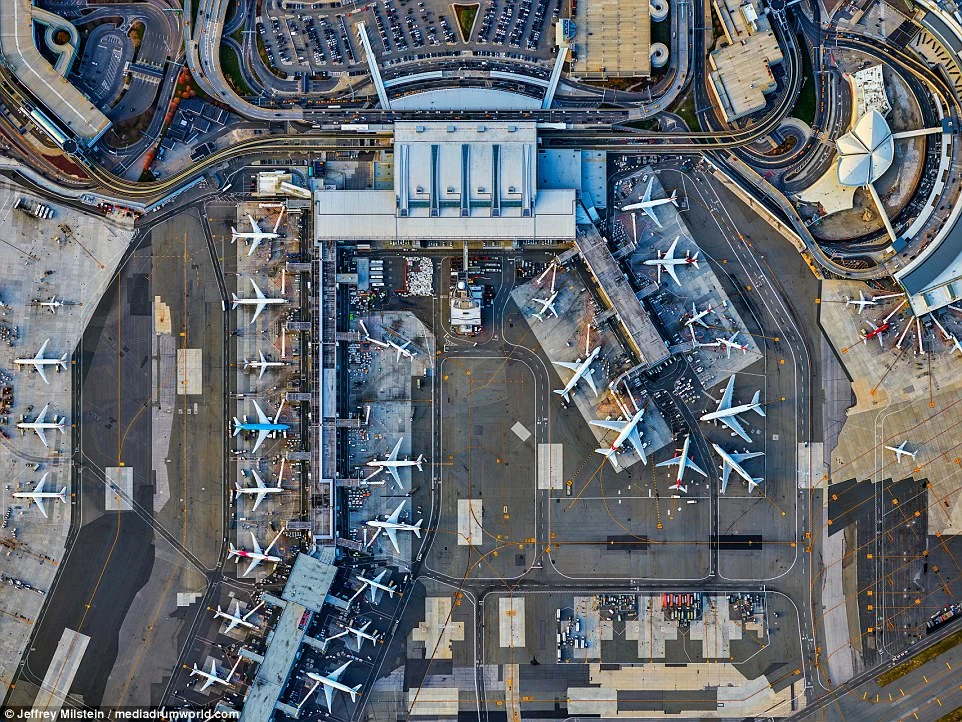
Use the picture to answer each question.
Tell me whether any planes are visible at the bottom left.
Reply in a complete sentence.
Yes, a plane appears at the bottom left.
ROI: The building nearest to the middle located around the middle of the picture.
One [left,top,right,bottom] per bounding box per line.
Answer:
[450,282,484,330]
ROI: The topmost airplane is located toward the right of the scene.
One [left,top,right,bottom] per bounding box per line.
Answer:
[622,176,678,227]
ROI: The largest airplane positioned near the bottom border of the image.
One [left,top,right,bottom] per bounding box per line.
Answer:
[306,659,365,714]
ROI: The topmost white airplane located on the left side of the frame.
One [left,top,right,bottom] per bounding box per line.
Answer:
[233,214,279,257]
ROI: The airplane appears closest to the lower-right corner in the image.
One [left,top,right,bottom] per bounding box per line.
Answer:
[885,440,918,464]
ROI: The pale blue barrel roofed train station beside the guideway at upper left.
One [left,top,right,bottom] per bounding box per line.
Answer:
[23,103,81,156]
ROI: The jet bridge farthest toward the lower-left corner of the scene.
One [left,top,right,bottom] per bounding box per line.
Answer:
[225,653,243,683]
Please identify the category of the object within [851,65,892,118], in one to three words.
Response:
building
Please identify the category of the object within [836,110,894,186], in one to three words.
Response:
building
